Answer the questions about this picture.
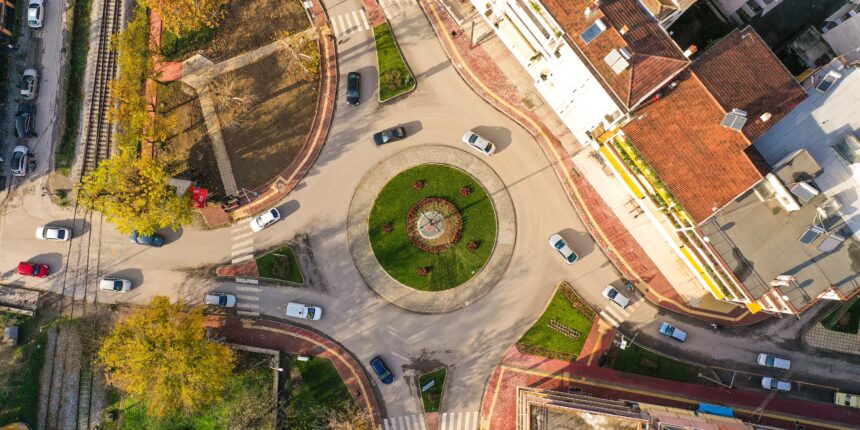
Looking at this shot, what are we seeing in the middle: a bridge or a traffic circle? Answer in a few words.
traffic circle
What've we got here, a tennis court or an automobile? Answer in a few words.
automobile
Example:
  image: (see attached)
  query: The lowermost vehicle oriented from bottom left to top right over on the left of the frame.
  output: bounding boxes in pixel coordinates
[249,206,281,232]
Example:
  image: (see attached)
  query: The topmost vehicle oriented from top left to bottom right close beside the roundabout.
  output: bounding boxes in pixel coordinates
[461,129,496,156]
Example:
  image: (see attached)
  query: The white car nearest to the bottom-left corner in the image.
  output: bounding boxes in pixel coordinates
[98,277,134,292]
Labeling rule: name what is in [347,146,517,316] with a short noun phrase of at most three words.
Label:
roundabout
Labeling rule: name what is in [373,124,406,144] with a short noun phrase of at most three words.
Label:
car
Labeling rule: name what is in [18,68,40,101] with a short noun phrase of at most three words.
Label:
car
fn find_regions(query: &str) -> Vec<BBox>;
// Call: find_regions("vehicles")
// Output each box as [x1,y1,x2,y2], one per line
[28,0,47,29]
[754,352,793,373]
[284,302,323,321]
[249,206,281,232]
[202,291,238,307]
[130,230,166,248]
[373,124,406,144]
[547,233,579,266]
[344,72,361,105]
[758,375,793,394]
[36,225,72,241]
[461,129,496,156]
[10,146,32,177]
[98,277,134,292]
[366,352,396,386]
[13,104,36,139]
[18,68,40,101]
[600,284,632,311]
[831,389,860,408]
[657,321,689,343]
